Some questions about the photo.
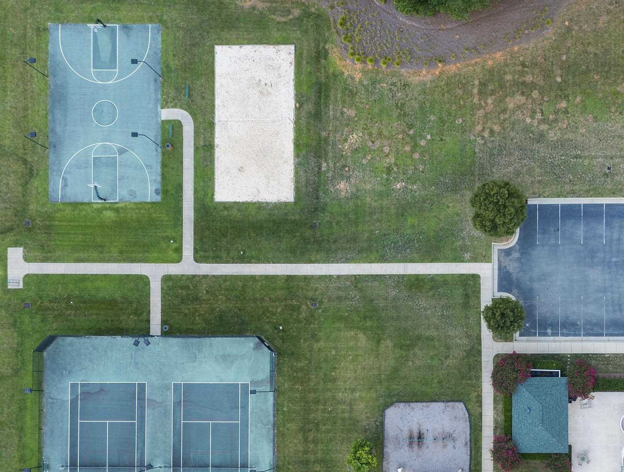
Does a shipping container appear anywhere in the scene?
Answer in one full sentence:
No, there appears to be no shipping container in this shot.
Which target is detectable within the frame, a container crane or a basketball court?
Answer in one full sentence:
This aerial view contains a basketball court.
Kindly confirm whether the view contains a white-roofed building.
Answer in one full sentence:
No, there's no white-roofed building here.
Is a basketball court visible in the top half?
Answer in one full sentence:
Yes, there is a basketball court in the top half.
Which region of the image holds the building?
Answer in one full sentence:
The building is in the bottom right part of the image.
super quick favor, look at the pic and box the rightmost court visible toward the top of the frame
[214,43,296,202]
